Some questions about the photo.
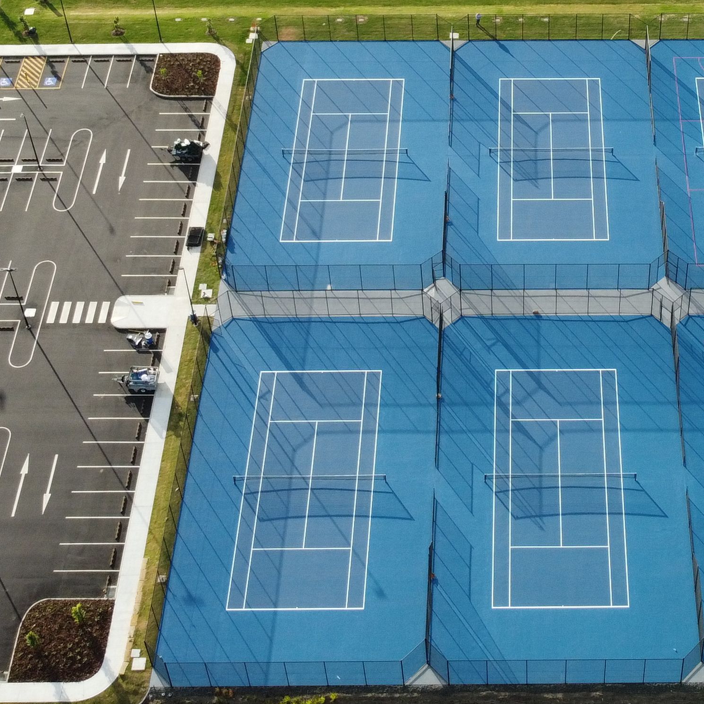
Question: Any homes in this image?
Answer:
No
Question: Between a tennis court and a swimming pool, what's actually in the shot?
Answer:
tennis court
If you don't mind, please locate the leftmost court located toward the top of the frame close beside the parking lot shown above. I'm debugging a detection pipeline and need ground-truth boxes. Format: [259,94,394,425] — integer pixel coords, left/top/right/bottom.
[222,39,452,291]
